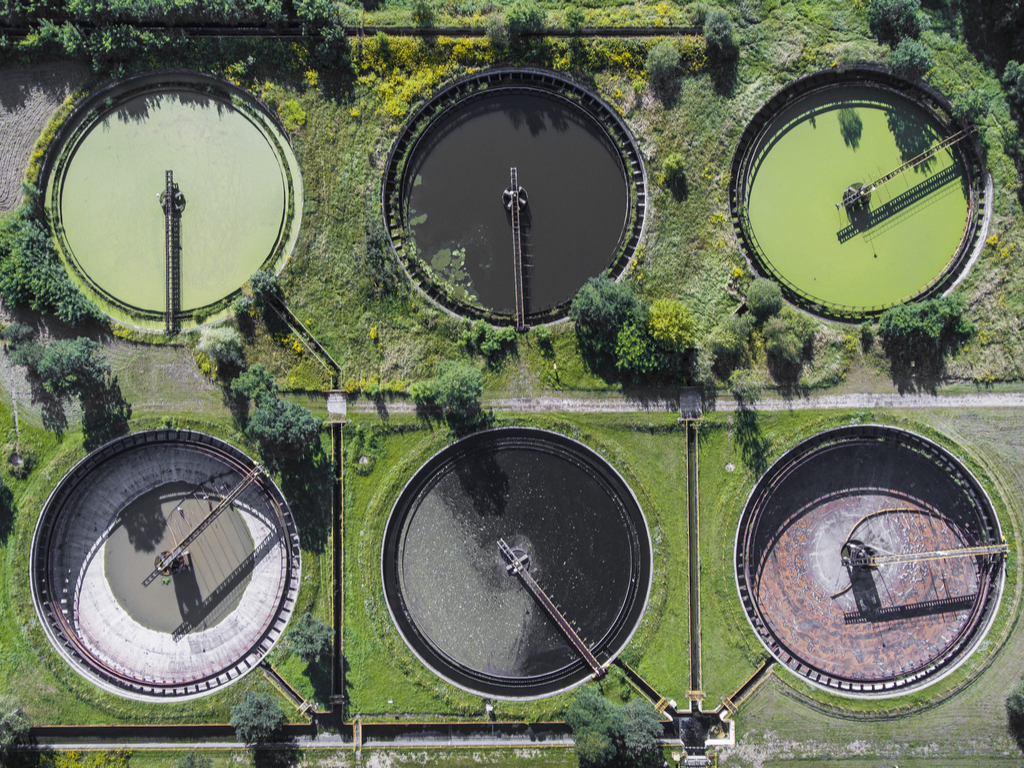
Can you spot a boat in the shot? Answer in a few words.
No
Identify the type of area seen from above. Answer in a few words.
industrial area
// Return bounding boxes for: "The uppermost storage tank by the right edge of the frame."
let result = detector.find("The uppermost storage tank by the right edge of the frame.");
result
[729,64,992,326]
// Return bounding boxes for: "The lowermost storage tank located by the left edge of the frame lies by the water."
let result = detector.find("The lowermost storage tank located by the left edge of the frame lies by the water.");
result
[29,430,301,701]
